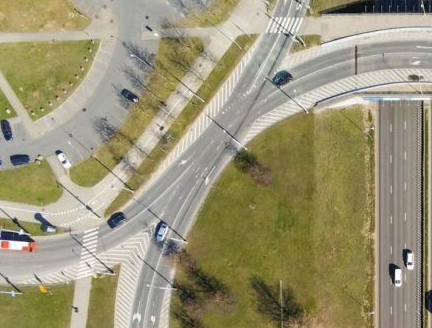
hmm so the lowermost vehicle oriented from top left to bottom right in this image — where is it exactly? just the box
[56,152,72,169]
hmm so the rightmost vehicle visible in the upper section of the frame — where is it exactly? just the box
[273,71,292,86]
